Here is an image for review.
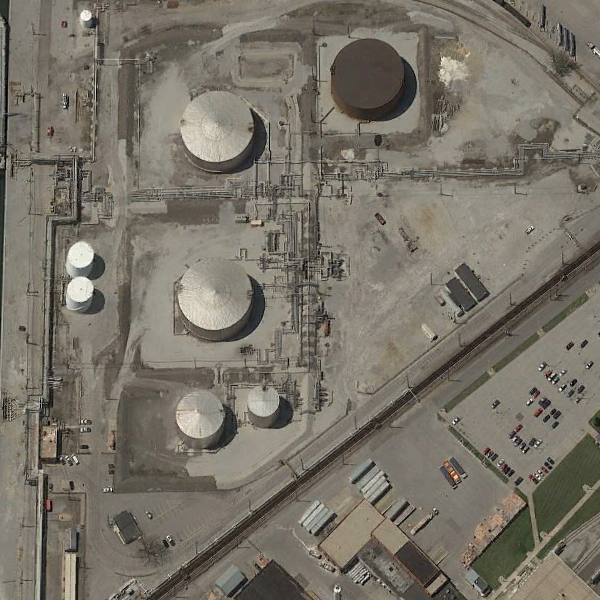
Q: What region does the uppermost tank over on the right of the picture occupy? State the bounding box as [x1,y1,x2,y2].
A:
[331,37,405,122]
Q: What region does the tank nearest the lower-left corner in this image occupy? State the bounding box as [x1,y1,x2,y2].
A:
[175,390,225,451]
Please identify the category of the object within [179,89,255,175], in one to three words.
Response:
storage tank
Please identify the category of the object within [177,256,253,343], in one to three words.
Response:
storage tank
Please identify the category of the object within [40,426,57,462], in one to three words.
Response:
building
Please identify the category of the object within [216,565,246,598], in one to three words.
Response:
shed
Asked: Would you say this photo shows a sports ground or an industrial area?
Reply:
industrial area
